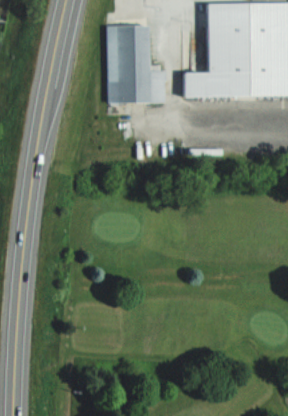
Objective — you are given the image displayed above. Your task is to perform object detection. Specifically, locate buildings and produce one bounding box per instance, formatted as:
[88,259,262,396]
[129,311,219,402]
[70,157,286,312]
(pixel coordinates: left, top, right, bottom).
[107,26,164,102]
[184,0,288,98]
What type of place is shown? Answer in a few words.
golf course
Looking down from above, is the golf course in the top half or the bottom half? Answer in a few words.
bottom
